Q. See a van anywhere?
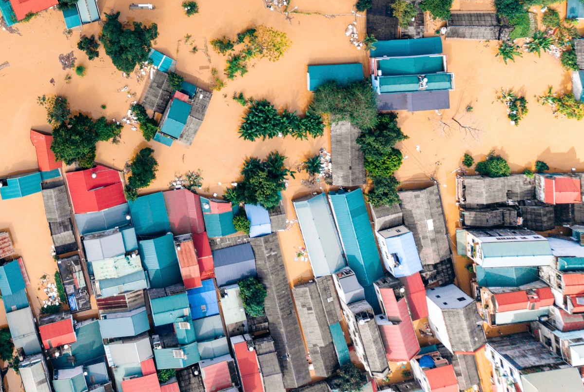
No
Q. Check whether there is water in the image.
Yes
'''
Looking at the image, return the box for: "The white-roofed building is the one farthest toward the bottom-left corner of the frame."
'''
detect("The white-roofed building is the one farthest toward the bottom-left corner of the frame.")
[18,345,51,392]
